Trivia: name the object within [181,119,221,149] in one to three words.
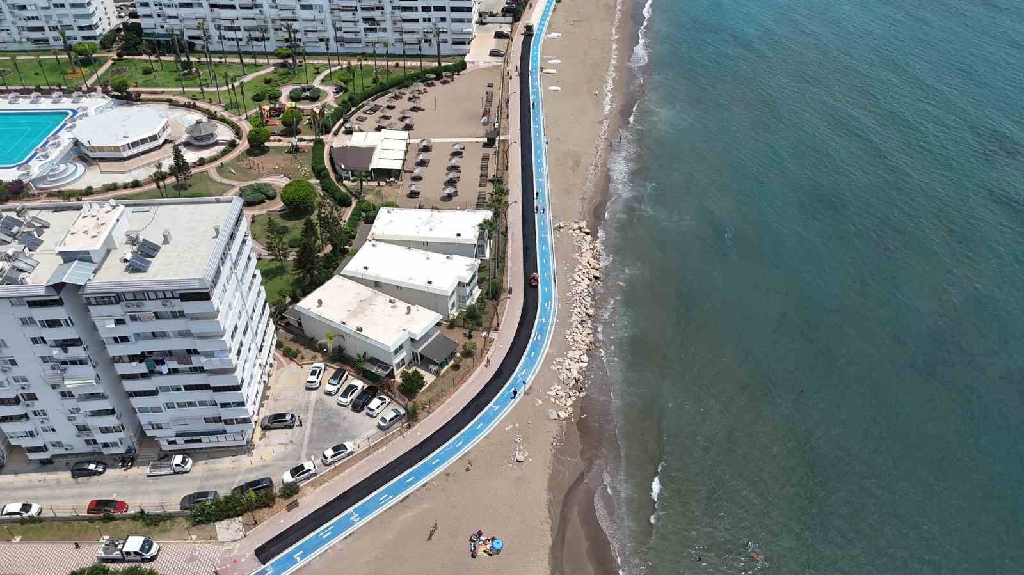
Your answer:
gazebo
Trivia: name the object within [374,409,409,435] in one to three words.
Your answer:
car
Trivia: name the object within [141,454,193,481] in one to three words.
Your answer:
truck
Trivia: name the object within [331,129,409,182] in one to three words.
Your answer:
building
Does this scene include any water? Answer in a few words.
Yes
